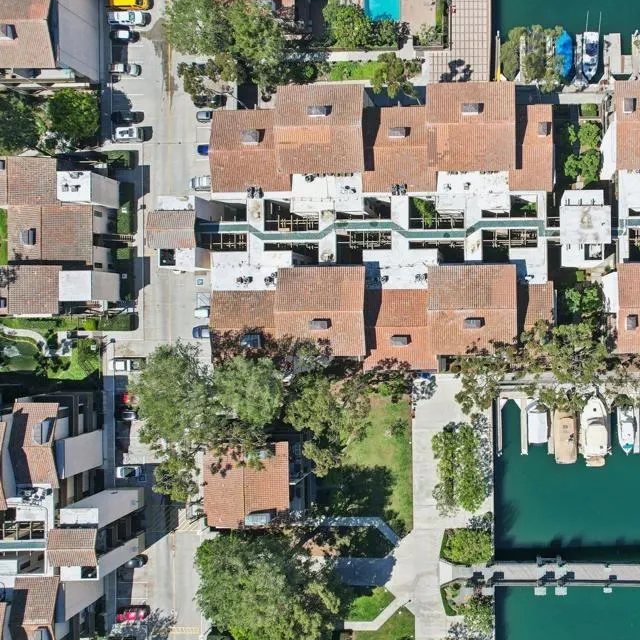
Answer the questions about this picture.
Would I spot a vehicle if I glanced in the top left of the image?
Yes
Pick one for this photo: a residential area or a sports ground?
residential area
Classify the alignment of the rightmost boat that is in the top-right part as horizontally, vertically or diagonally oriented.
vertically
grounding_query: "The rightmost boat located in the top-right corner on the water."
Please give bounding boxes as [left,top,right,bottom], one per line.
[581,21,601,80]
